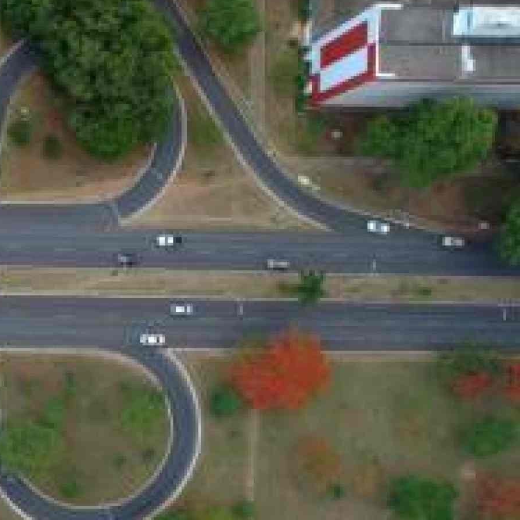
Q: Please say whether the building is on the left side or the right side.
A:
right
